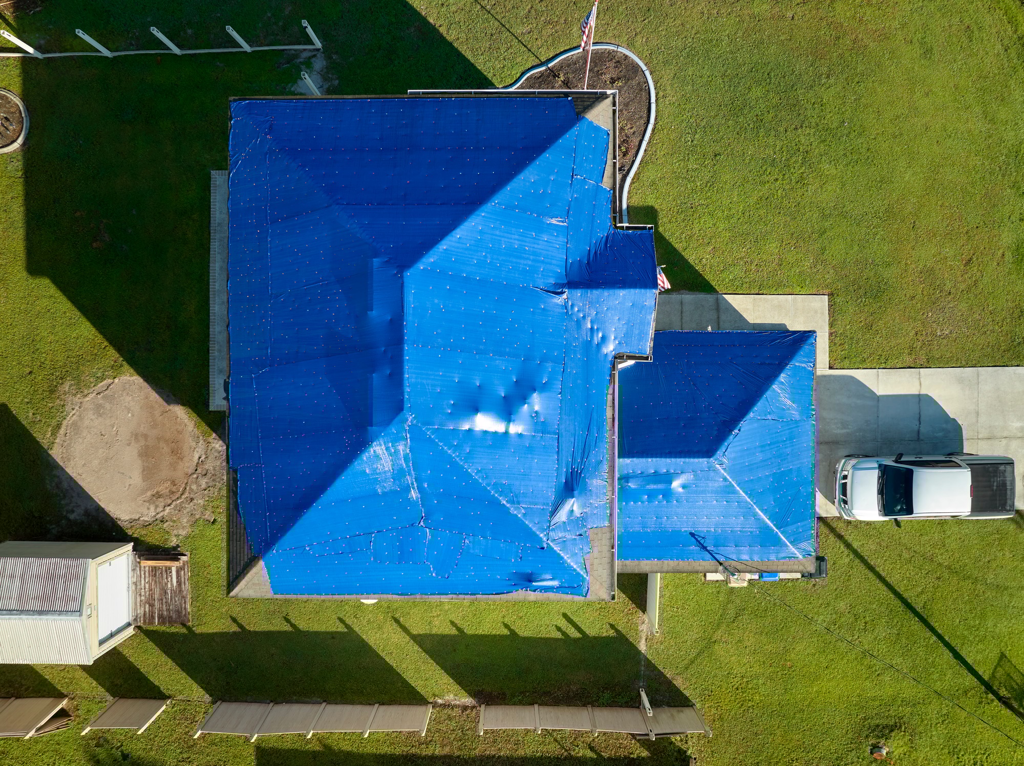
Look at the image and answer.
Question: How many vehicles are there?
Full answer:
There is 1 vehicle in the image.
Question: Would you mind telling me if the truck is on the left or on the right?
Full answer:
The truck sits on the right side.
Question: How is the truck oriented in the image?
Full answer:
From this overhead view, the truck appears to run horizontally.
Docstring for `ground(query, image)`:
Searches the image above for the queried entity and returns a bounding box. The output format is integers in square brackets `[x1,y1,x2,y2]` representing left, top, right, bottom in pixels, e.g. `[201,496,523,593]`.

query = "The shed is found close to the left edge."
[0,544,136,666]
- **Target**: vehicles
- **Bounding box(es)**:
[831,452,1017,528]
